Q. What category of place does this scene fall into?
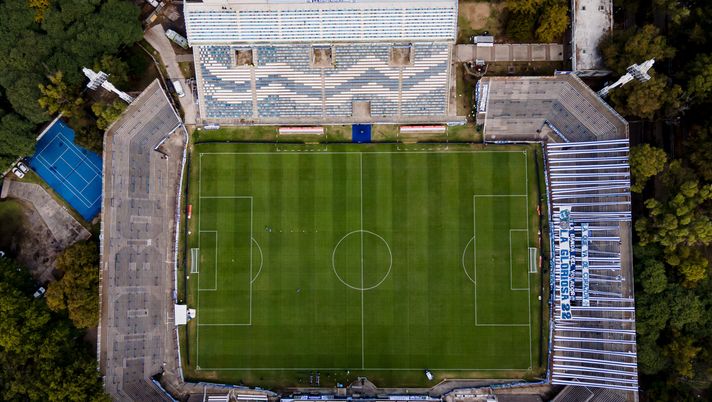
sports ground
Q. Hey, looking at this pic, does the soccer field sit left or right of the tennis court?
to the right of it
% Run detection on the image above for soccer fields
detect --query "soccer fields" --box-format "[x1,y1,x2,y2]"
[195,127,534,373]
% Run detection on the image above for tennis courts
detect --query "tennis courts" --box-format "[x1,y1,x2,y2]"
[22,115,102,225]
